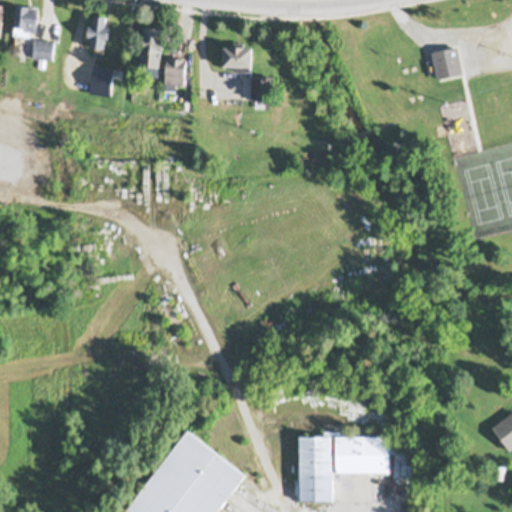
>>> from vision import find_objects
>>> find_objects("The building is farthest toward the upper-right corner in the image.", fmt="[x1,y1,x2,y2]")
[433,48,463,82]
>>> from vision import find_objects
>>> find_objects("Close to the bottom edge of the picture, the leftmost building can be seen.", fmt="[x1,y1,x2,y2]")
[128,432,245,512]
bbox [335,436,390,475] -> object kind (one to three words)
building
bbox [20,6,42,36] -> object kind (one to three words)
house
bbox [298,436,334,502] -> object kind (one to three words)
shed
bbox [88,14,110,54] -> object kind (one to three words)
house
